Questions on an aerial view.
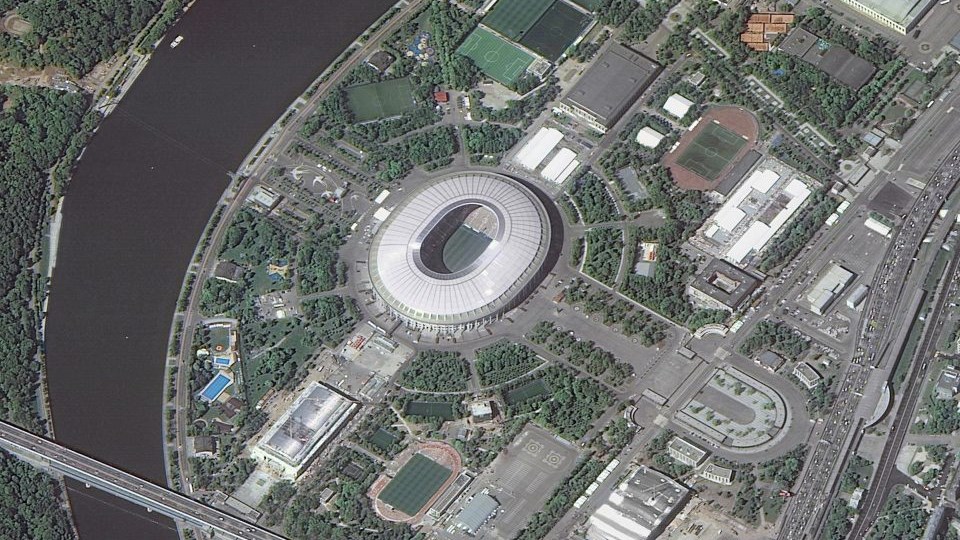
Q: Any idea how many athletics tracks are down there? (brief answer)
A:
2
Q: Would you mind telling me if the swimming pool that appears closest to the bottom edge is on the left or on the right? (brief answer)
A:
left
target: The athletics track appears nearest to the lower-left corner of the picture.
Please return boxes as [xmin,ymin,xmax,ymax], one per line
[369,441,461,524]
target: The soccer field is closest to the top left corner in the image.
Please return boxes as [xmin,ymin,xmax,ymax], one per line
[343,78,415,124]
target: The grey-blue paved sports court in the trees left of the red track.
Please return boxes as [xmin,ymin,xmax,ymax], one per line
[616,166,646,199]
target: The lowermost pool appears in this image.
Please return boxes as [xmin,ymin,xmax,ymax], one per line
[201,368,236,402]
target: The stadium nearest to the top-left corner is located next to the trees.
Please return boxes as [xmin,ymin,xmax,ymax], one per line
[368,172,550,335]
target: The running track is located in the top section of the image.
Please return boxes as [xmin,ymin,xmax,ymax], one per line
[660,105,758,190]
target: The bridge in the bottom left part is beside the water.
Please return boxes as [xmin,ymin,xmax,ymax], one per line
[0,420,286,540]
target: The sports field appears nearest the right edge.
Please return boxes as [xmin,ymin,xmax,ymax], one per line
[675,121,746,181]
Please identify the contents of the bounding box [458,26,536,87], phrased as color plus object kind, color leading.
green soccer field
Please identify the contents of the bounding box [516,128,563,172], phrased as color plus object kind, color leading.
white tent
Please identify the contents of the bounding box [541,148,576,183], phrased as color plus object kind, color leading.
white tent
